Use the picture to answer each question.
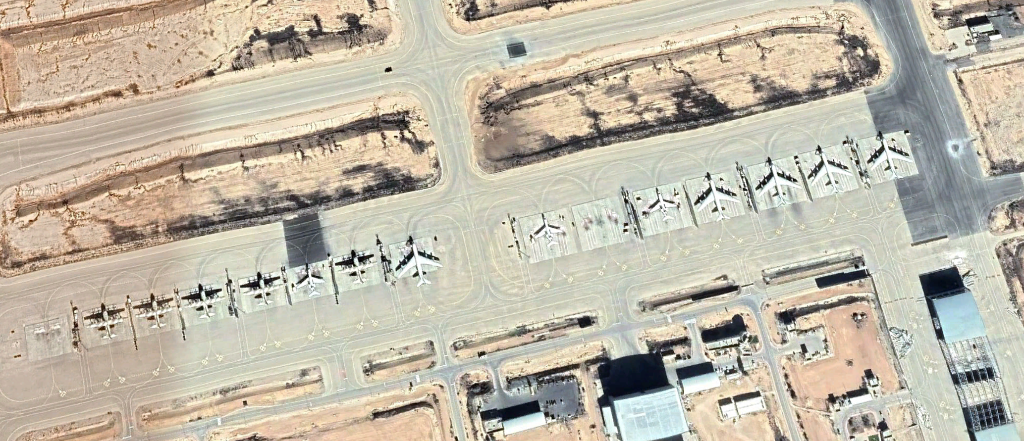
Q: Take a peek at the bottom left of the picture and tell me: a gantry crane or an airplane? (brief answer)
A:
airplane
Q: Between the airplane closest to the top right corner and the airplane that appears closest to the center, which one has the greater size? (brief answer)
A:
the airplane closest to the top right corner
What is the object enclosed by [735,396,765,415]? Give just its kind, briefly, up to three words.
shed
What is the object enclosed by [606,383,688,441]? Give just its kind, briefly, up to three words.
hangar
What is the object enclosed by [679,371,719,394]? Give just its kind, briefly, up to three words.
hangar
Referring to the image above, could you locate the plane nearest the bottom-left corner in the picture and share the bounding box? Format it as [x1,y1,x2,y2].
[87,311,128,340]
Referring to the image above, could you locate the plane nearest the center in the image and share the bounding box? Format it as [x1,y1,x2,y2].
[535,220,563,247]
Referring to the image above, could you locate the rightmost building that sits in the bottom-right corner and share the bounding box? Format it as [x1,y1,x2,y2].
[921,288,1019,441]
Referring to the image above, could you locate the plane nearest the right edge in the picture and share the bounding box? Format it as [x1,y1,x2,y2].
[876,139,912,181]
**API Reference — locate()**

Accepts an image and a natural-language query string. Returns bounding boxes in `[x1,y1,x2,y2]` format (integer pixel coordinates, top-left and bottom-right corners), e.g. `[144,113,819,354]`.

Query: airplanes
[137,301,177,328]
[876,139,912,181]
[700,180,739,222]
[814,152,851,194]
[761,163,800,206]
[185,291,226,319]
[400,244,443,287]
[297,270,326,296]
[339,257,378,284]
[535,220,563,247]
[87,311,128,340]
[244,280,284,306]
[651,193,677,221]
